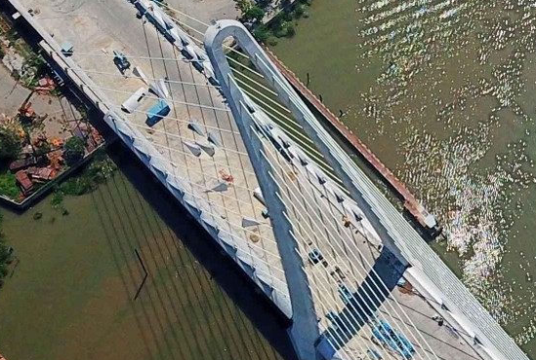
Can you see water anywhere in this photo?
Yes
